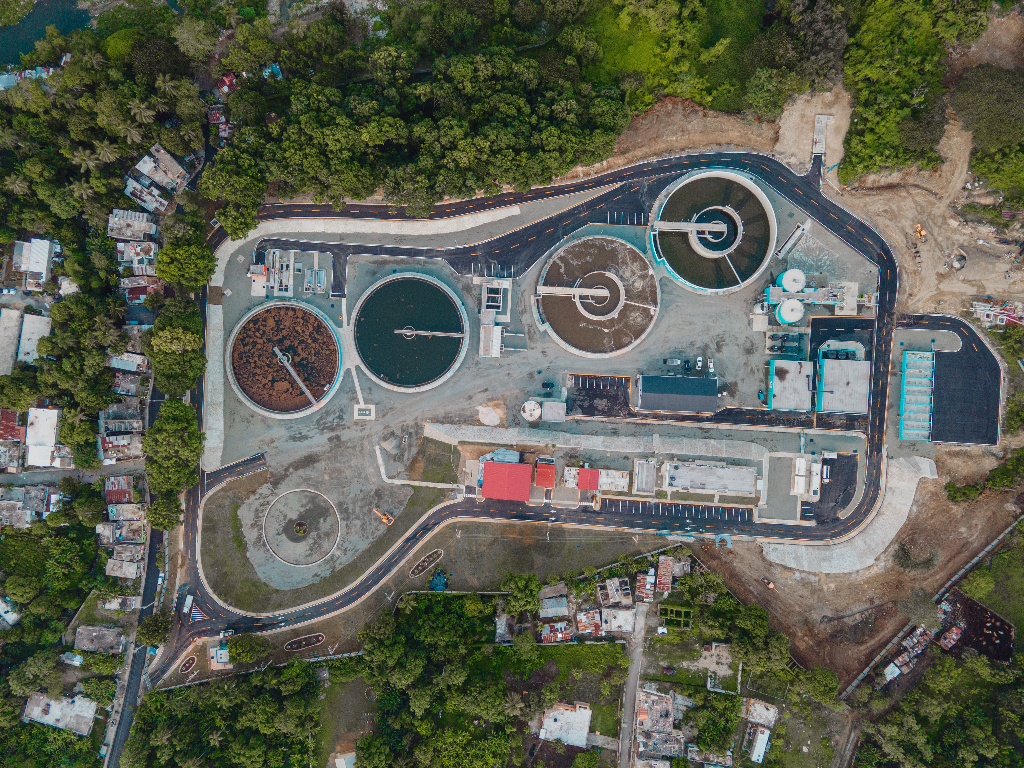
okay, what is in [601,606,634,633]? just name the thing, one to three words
house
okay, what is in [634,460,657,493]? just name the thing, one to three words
building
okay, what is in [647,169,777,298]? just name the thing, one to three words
water tank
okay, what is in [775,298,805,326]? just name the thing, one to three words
storage tank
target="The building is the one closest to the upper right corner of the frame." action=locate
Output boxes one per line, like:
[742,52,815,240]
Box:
[758,284,846,306]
